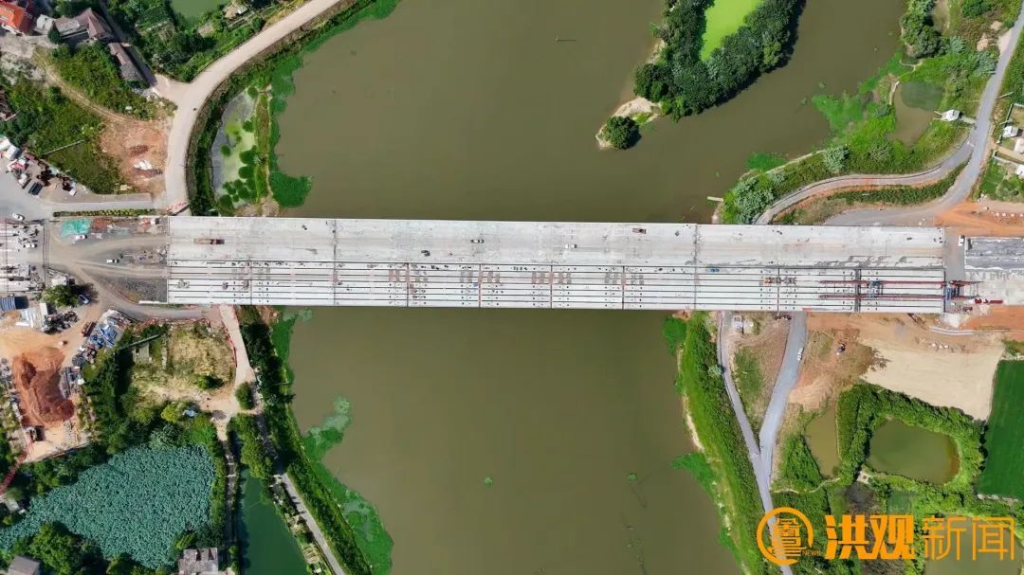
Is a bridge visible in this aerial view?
Yes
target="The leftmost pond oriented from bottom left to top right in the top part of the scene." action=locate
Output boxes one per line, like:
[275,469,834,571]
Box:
[702,0,760,59]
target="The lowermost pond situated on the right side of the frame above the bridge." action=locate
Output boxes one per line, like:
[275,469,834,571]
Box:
[890,77,944,145]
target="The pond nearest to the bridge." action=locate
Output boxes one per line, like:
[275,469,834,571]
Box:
[212,89,258,207]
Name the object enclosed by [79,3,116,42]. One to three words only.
house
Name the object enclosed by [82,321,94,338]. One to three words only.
vehicle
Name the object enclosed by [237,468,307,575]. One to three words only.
pond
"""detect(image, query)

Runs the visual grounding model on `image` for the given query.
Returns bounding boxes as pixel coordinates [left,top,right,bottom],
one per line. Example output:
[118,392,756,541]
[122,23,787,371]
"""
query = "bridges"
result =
[164,216,948,314]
